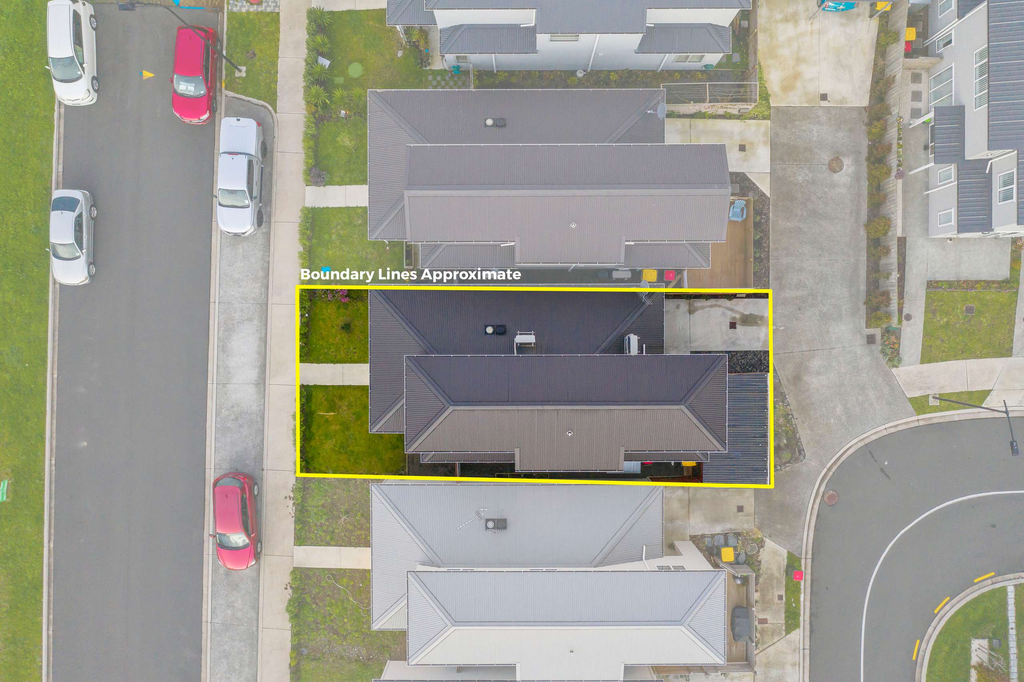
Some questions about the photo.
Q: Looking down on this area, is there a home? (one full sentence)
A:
Yes, there's a home here.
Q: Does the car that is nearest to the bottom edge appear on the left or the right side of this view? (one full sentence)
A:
The car that is nearest to the bottom edge appears in the left half of the scene.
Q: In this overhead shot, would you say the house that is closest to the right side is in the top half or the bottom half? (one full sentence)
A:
Seen from above, the house that is closest to the right side lies in the top half of the view.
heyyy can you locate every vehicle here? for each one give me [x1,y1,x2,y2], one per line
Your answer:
[44,0,99,107]
[210,117,267,238]
[43,187,97,287]
[212,473,261,568]
[165,24,222,123]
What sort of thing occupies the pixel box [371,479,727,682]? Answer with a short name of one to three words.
house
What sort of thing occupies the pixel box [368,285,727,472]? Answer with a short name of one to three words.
house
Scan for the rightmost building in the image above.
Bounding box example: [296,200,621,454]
[907,0,1024,238]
